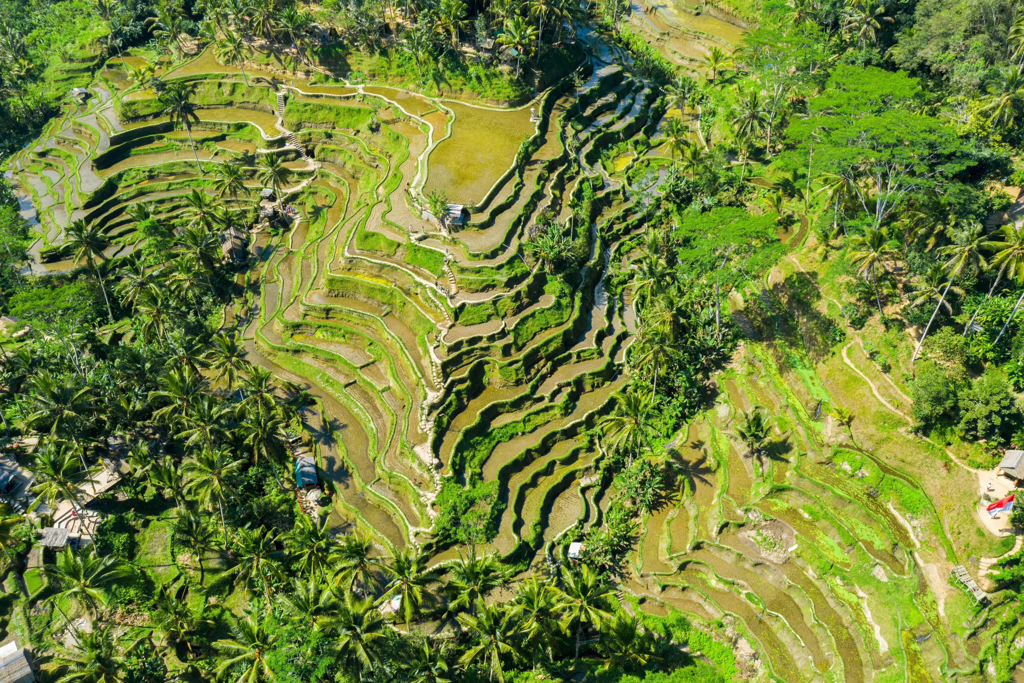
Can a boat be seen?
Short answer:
No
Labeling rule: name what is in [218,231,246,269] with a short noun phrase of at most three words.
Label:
shed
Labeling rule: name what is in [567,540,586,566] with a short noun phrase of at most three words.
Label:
shed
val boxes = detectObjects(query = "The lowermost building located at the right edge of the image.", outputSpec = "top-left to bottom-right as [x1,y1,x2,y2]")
[991,448,1024,498]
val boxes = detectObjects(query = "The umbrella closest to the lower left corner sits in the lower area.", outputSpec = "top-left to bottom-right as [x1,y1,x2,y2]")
[305,490,320,504]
